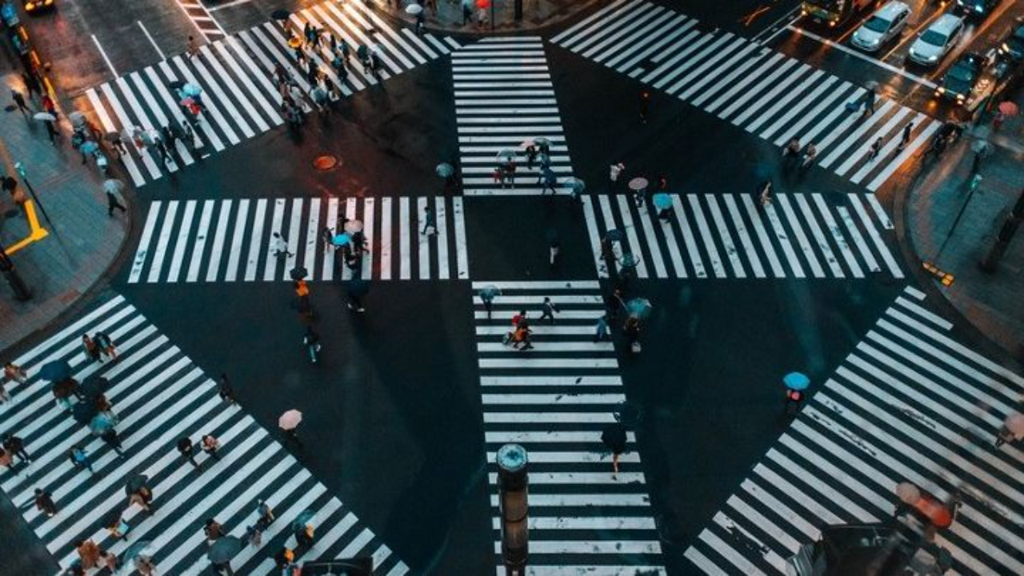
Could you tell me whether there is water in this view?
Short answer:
No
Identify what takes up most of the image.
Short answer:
paved ground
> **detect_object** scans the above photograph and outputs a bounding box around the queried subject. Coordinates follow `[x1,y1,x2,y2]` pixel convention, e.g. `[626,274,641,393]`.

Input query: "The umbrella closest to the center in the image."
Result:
[478,281,501,301]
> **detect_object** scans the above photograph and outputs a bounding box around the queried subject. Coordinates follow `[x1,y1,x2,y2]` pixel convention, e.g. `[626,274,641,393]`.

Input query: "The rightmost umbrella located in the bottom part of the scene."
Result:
[998,411,1024,437]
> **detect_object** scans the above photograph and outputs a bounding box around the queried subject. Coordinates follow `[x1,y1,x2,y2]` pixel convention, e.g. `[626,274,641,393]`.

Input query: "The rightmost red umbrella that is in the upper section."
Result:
[998,101,1020,118]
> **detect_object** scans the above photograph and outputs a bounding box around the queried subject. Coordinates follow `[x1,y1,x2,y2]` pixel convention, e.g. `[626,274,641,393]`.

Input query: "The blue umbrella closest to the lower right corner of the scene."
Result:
[782,371,807,393]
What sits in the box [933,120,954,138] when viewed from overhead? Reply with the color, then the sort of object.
black umbrella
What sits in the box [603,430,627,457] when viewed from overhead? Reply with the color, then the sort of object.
black umbrella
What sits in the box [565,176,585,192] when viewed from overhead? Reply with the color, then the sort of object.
blue umbrella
